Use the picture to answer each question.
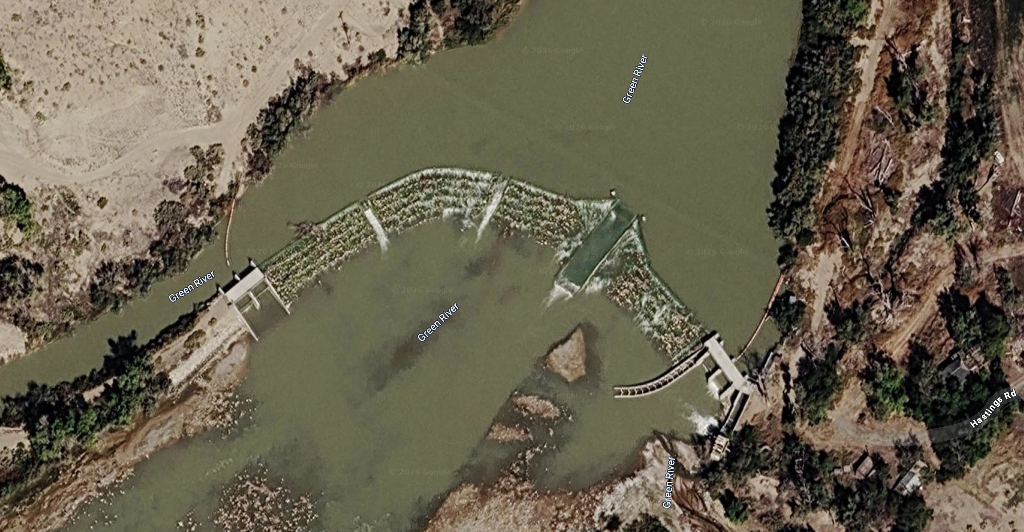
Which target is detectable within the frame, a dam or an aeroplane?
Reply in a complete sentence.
There is a dam in the scene.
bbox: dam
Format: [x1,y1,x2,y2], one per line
[258,165,706,363]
